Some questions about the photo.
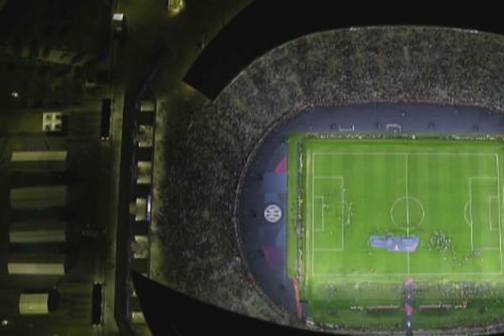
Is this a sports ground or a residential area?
sports ground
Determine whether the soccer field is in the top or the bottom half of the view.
bottom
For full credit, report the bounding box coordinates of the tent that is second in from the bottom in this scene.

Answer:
[4,254,71,275]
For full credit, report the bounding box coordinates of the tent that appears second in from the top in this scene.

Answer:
[6,186,73,210]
